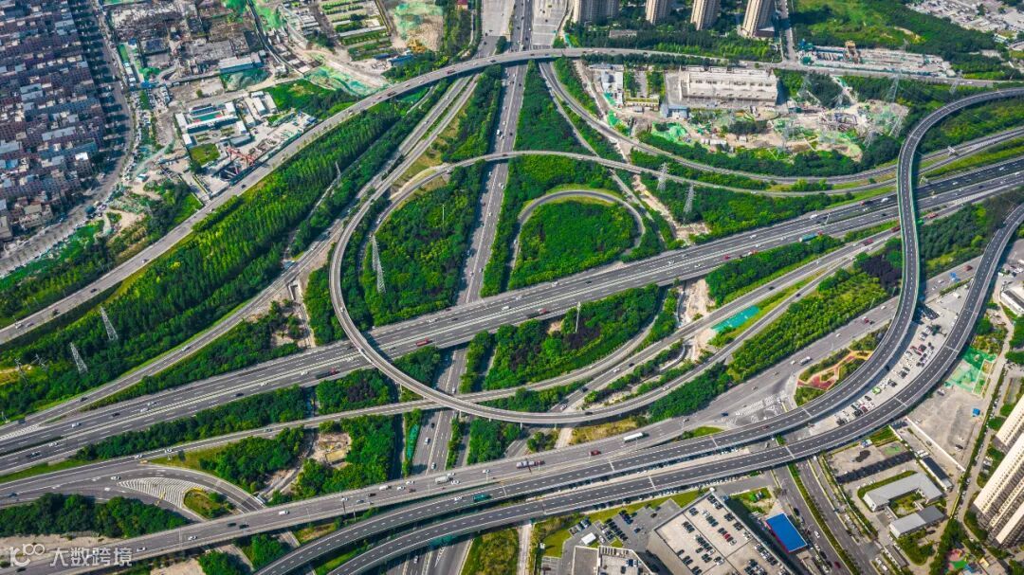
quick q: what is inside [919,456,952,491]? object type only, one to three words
shed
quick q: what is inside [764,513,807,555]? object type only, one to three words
building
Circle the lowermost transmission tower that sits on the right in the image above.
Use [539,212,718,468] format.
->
[682,183,694,220]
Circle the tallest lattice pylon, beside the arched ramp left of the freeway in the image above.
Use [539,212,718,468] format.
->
[370,235,389,294]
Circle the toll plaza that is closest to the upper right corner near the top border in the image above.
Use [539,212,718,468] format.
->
[532,0,563,49]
